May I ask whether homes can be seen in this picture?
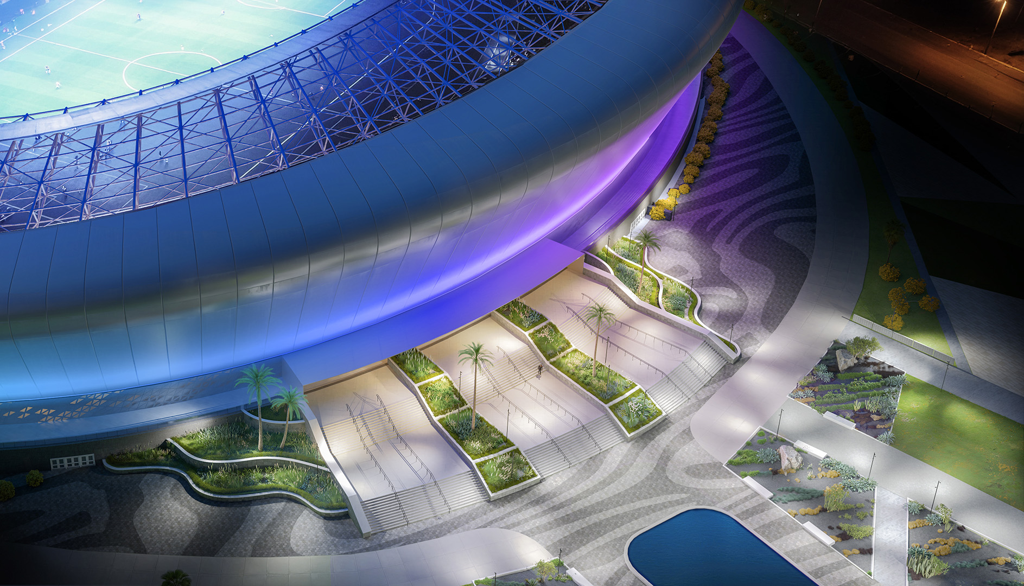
No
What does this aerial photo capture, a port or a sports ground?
sports ground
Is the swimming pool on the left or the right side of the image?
right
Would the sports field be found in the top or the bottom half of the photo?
top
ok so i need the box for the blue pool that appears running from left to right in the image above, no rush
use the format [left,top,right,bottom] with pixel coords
[628,508,817,586]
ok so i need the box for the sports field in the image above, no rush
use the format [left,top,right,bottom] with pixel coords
[0,0,365,137]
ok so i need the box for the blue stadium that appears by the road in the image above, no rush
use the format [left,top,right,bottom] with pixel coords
[0,0,737,475]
